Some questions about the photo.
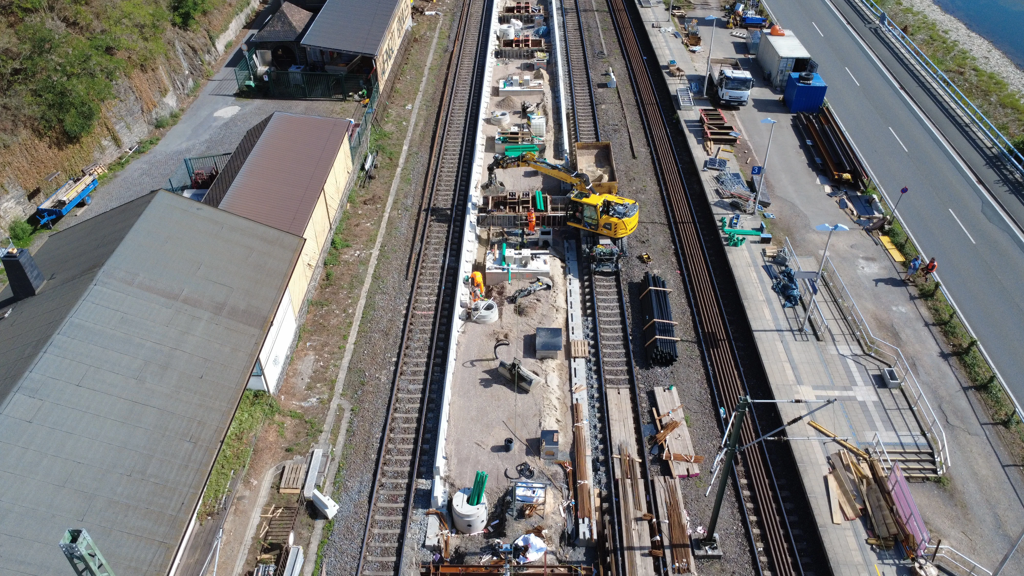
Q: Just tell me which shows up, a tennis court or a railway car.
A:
railway car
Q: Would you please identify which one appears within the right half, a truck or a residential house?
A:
truck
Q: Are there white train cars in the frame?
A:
No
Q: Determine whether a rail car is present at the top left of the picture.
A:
No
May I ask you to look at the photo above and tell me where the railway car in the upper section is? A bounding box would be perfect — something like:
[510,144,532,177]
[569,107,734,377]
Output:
[574,141,619,196]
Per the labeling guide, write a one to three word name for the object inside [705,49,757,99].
truck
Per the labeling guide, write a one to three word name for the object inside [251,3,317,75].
house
